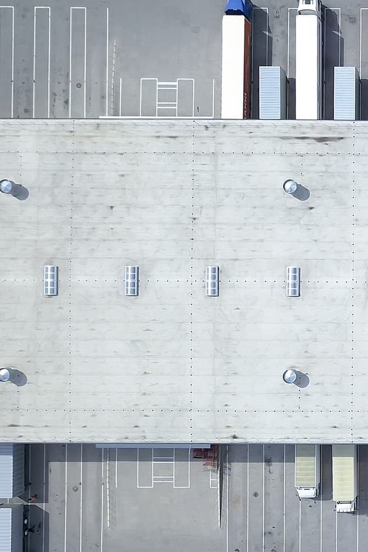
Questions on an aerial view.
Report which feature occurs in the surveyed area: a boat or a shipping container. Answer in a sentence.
It is a shipping container that can be seen here.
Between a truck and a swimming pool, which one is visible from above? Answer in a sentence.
The one in the frame is a truck.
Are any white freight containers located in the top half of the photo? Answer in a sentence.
Yes, the scene does show a white freight container in the top half of the photo.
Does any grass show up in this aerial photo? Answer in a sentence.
No, there's no grass in this view.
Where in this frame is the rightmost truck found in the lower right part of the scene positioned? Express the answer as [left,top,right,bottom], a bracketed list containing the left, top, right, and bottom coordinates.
[334,446,358,515]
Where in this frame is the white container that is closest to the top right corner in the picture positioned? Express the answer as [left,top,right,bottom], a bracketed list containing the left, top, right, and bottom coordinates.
[335,67,361,121]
